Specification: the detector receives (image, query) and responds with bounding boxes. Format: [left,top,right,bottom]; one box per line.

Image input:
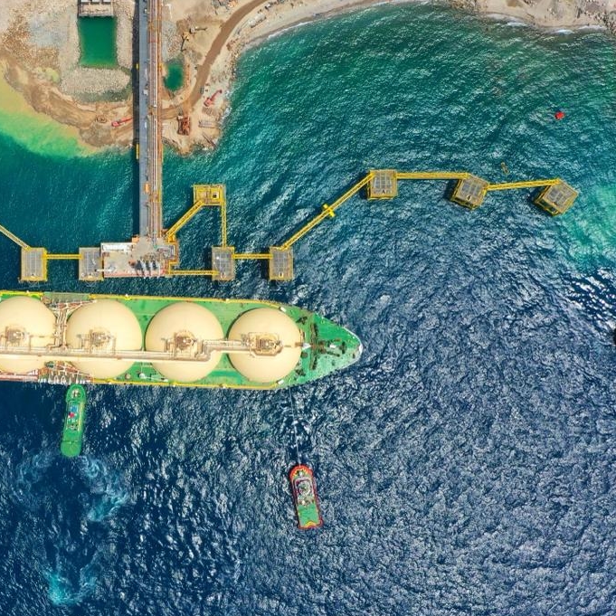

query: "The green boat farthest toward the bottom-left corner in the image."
[61,385,86,457]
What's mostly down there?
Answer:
water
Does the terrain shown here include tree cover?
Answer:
No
